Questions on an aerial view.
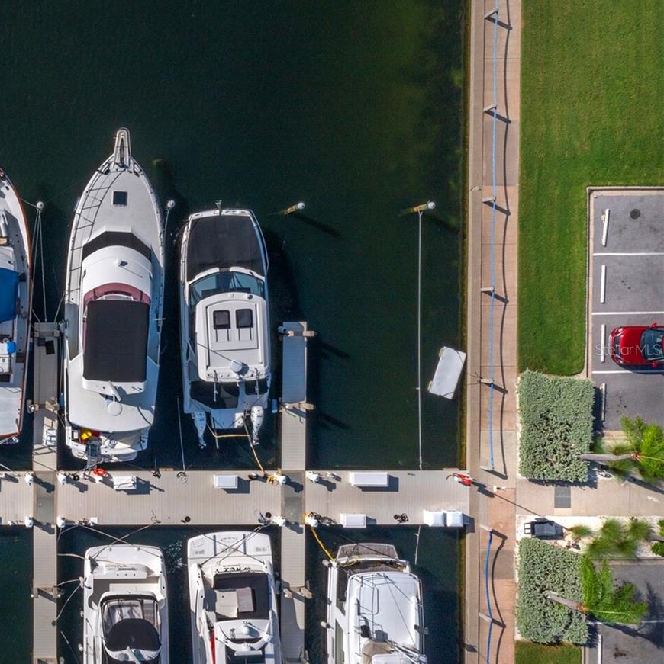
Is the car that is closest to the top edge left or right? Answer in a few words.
right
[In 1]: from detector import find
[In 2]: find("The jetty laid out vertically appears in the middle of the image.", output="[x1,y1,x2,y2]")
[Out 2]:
[279,322,305,471]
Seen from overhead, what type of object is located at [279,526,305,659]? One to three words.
pier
